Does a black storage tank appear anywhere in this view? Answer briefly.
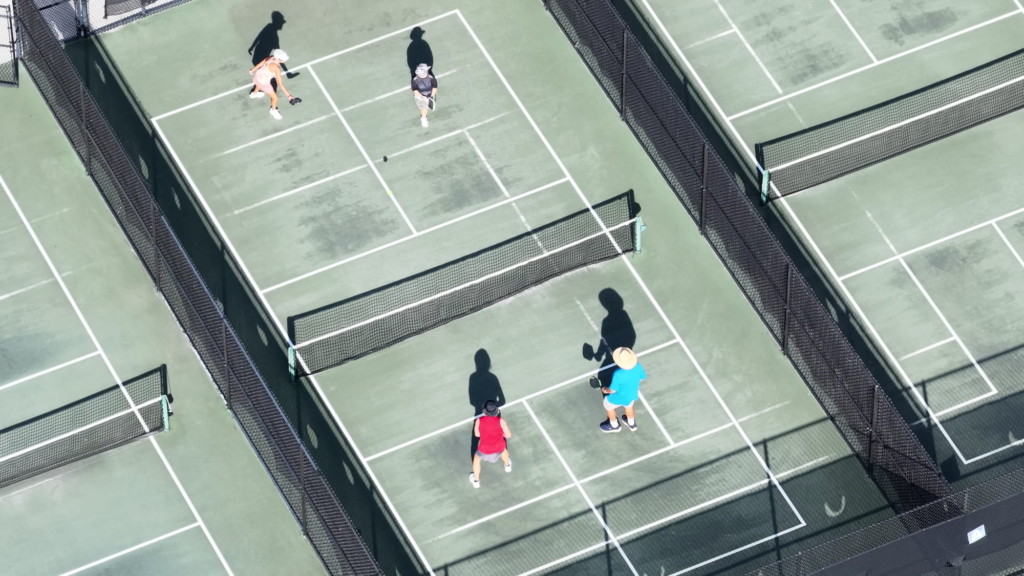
No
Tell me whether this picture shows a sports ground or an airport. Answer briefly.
sports ground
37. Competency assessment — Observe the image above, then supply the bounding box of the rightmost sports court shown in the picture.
[544,0,1024,576]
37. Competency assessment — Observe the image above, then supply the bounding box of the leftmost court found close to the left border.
[0,62,326,576]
